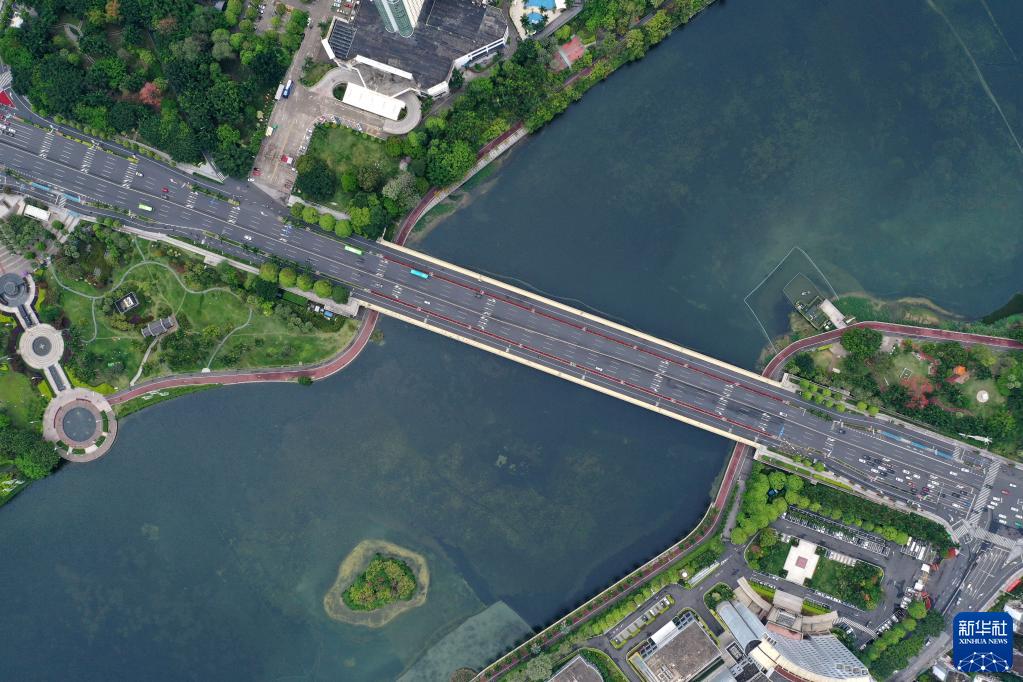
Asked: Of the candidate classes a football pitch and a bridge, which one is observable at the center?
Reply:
bridge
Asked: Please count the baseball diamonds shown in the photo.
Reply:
0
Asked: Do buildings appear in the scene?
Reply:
Yes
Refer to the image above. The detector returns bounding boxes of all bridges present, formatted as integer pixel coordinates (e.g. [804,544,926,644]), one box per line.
[355,240,797,449]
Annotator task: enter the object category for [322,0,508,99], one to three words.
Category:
building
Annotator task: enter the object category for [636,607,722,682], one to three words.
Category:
building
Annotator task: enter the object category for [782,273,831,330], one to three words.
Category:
pier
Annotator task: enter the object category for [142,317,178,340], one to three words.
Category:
house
